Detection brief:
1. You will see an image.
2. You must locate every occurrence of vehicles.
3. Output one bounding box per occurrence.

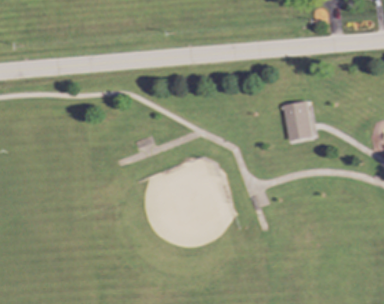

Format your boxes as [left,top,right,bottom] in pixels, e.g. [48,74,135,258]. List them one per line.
[335,8,340,19]
[376,0,382,6]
